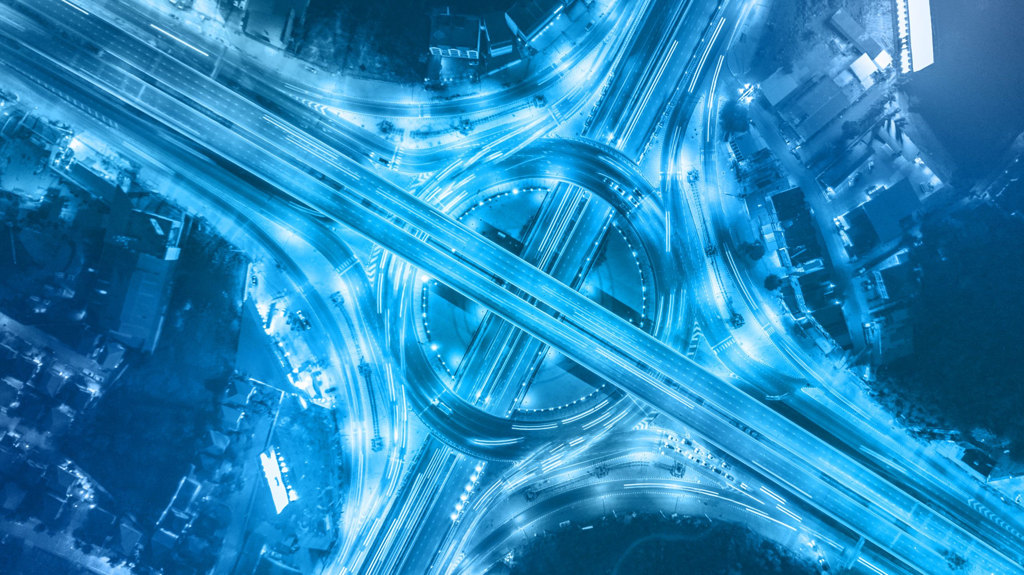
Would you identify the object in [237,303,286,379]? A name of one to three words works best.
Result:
building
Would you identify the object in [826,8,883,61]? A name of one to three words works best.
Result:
shed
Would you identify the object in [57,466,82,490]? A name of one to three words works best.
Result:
house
